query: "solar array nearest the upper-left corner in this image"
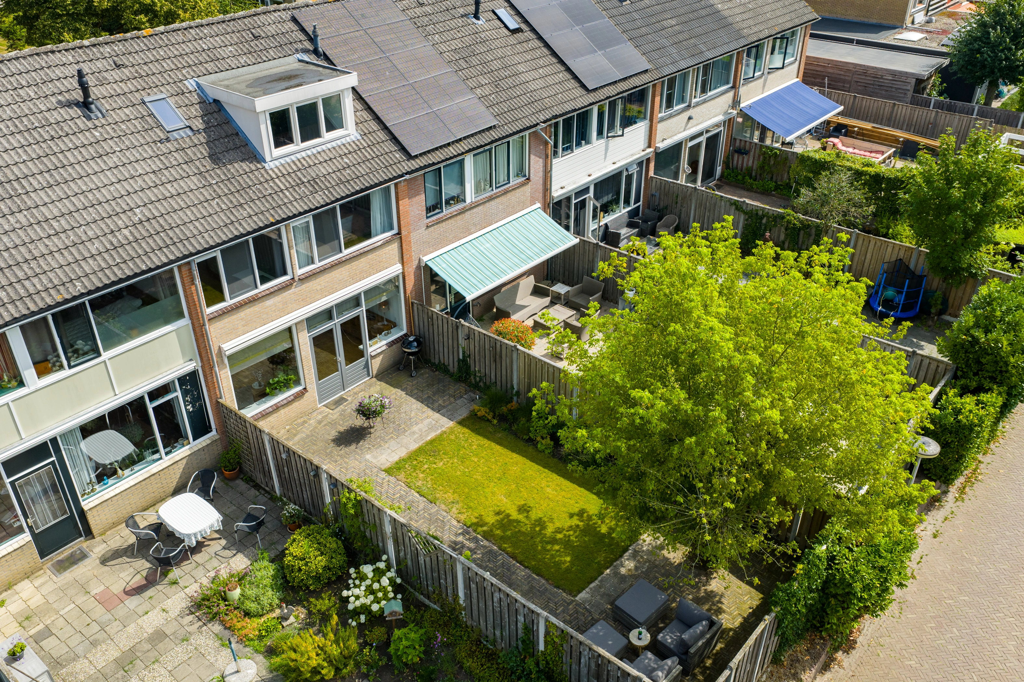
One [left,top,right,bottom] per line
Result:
[294,0,501,157]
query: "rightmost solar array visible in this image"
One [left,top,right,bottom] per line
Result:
[510,0,653,91]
